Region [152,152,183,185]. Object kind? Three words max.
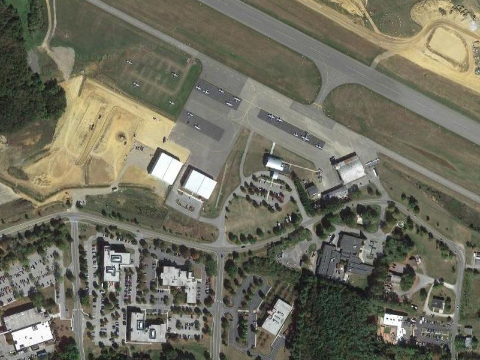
hangar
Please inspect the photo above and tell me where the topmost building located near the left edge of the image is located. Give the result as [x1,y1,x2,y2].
[3,308,40,332]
